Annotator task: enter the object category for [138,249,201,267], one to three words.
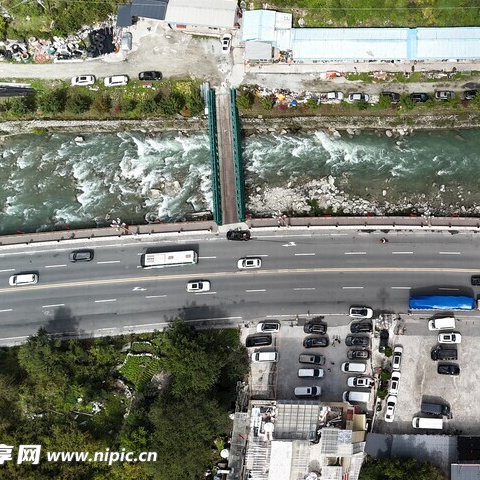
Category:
vehicle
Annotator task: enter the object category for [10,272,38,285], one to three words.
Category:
vehicle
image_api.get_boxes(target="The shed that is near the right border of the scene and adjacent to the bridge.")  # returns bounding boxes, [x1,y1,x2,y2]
[292,27,480,66]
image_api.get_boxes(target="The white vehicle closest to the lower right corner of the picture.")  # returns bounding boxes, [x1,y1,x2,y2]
[413,417,443,430]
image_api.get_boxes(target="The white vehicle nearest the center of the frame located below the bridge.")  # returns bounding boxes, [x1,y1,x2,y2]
[237,257,262,269]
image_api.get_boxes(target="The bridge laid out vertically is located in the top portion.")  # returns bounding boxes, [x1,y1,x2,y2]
[208,77,250,228]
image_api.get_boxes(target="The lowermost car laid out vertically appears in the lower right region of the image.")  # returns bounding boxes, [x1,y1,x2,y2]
[384,395,398,423]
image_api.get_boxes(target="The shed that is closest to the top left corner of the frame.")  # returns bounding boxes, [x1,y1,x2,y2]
[117,3,135,31]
